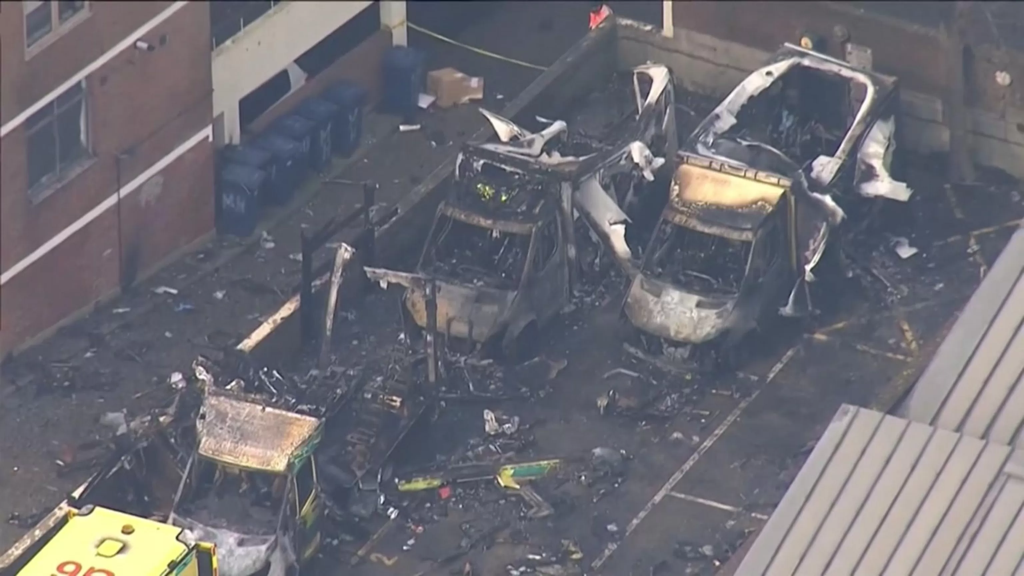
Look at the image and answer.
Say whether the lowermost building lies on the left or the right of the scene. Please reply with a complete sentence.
It is on the right.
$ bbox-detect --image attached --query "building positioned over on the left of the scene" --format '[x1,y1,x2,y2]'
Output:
[0,0,217,359]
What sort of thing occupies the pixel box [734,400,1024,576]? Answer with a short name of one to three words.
building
